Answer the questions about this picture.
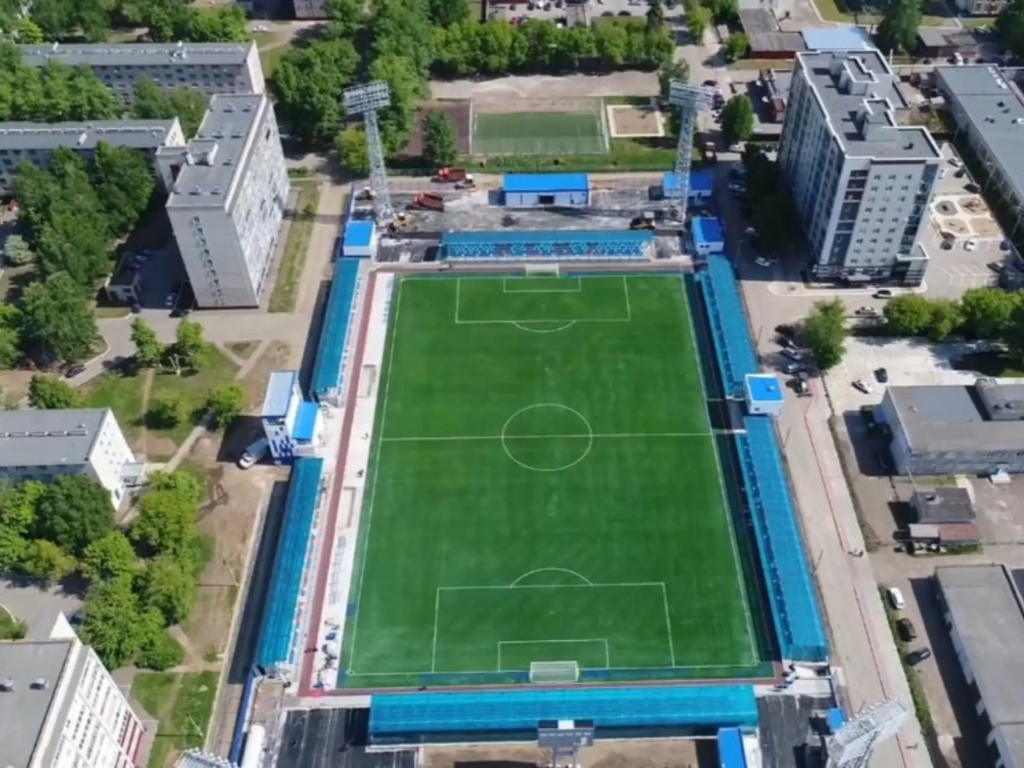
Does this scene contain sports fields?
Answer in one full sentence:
Yes, you can see a sports field in this photo.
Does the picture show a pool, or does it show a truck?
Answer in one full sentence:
The image shows a truck.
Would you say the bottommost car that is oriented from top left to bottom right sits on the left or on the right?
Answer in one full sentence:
The bottommost car that is oriented from top left to bottom right is on the right side of the image.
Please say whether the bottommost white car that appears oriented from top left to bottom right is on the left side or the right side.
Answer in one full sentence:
It is on the right.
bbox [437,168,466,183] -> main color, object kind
red vehicle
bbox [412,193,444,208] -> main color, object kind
red vehicle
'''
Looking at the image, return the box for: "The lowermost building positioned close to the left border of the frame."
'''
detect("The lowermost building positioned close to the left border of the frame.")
[0,637,136,768]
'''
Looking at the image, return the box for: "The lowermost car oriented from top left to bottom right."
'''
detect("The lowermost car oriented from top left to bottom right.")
[895,616,920,643]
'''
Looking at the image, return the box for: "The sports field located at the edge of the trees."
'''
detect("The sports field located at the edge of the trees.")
[335,264,781,688]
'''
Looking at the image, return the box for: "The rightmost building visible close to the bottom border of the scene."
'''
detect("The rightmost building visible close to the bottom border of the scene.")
[931,565,1024,768]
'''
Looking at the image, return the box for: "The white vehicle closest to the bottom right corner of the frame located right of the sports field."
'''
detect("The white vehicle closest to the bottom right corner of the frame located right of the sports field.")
[883,584,910,612]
